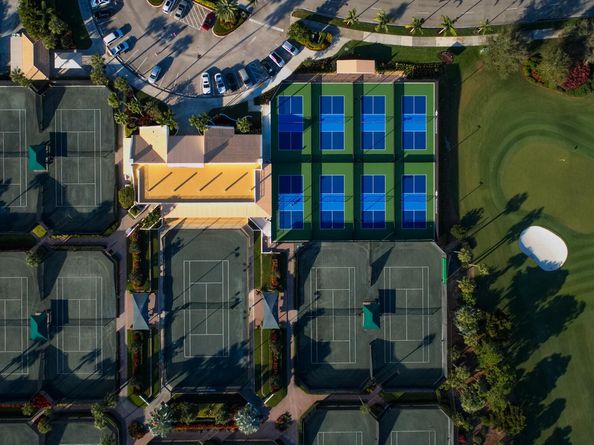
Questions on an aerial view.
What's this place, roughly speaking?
sports ground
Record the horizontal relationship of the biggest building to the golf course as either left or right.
left of it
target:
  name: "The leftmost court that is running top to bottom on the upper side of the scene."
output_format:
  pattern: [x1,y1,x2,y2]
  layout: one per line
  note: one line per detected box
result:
[0,87,40,233]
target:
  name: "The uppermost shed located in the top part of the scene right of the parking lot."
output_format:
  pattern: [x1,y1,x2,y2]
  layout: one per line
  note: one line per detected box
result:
[336,58,375,74]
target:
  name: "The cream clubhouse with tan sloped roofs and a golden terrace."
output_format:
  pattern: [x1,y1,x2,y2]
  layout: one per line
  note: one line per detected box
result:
[124,125,270,219]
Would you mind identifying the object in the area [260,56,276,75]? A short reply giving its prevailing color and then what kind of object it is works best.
black car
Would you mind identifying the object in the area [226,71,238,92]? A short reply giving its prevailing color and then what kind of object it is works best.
black vehicle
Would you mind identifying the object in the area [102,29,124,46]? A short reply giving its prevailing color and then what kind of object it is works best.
white car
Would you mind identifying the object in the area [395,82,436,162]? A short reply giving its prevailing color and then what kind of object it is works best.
blue sports court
